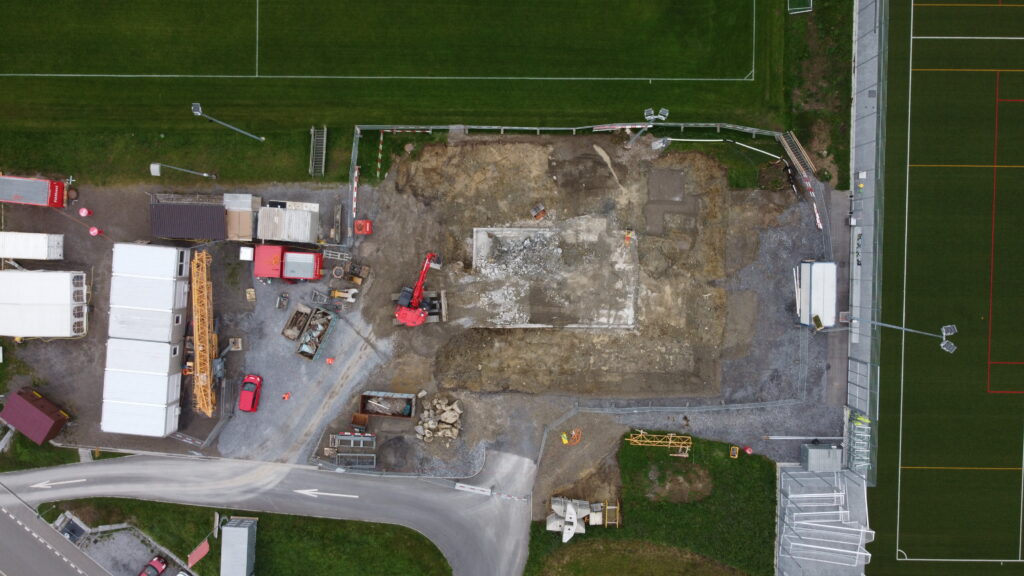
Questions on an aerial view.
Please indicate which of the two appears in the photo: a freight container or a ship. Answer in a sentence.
This aerial view contains a freight container.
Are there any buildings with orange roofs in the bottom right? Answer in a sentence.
No, in the bottom right there is no building with an orange roof.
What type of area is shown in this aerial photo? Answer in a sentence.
What you see here is a sports ground.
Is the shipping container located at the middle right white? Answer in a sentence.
Yes, white is the color of the shipping container located at the middle right.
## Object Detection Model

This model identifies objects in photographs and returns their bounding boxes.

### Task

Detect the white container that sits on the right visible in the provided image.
[799,262,836,327]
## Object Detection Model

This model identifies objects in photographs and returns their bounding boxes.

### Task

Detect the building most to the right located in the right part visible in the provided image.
[801,438,843,472]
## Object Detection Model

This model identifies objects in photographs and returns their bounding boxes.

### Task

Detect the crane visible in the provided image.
[180,252,236,418]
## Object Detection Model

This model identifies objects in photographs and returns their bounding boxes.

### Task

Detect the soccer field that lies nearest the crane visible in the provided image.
[0,0,786,123]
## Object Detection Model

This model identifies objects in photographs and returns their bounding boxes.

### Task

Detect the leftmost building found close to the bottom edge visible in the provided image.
[220,511,259,576]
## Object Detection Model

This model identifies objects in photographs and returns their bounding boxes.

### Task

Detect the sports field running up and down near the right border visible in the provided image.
[866,0,1024,576]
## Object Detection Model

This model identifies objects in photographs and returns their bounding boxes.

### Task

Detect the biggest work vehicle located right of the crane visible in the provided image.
[390,250,449,327]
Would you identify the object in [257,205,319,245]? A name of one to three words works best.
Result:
shed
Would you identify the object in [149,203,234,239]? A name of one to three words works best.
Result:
shed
